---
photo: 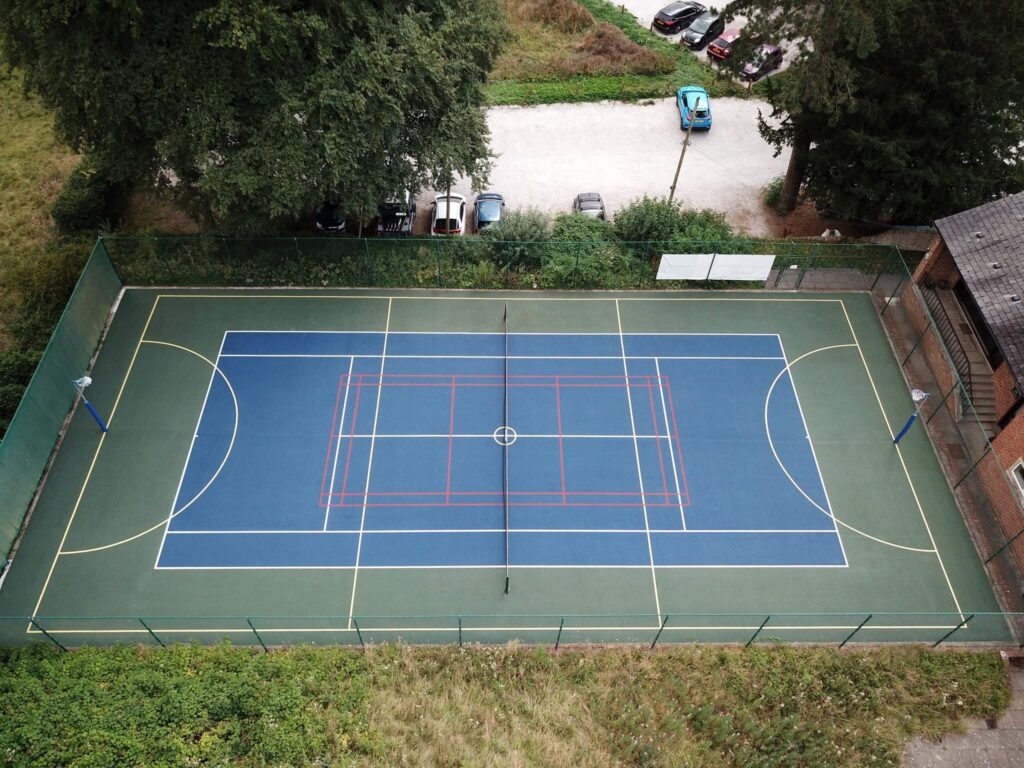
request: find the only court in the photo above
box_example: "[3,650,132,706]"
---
[0,288,1021,646]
